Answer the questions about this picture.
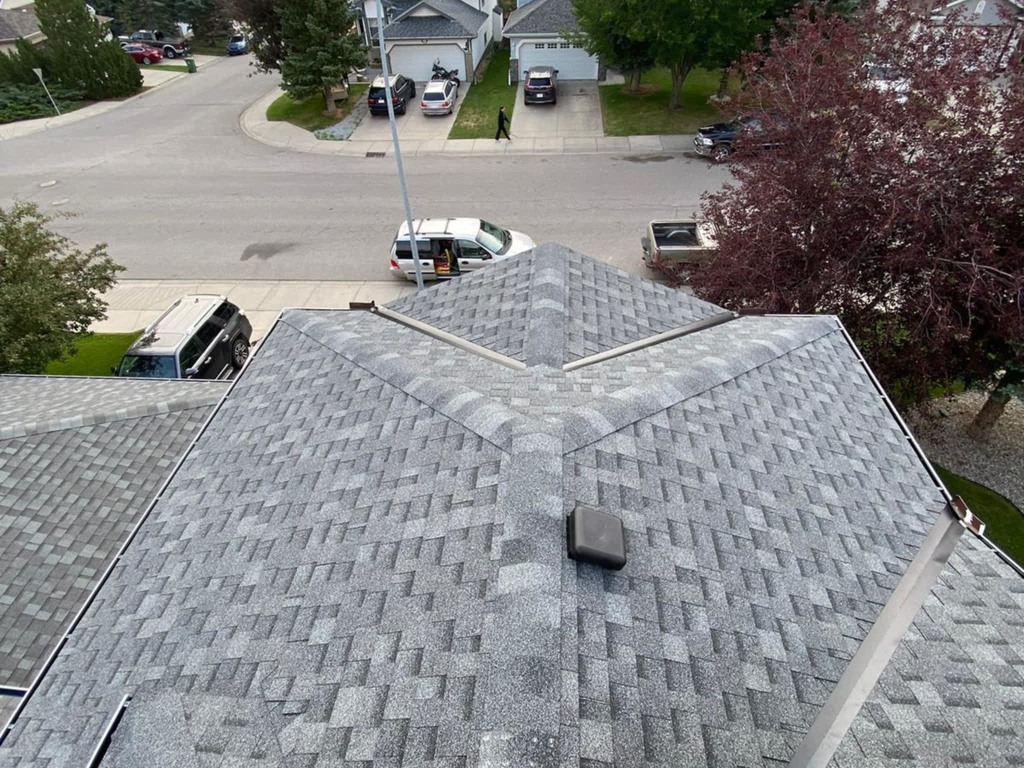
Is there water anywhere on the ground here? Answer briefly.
No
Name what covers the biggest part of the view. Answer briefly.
buildings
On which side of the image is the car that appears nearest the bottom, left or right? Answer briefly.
left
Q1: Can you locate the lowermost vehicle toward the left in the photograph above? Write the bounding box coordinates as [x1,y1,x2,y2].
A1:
[112,295,255,378]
